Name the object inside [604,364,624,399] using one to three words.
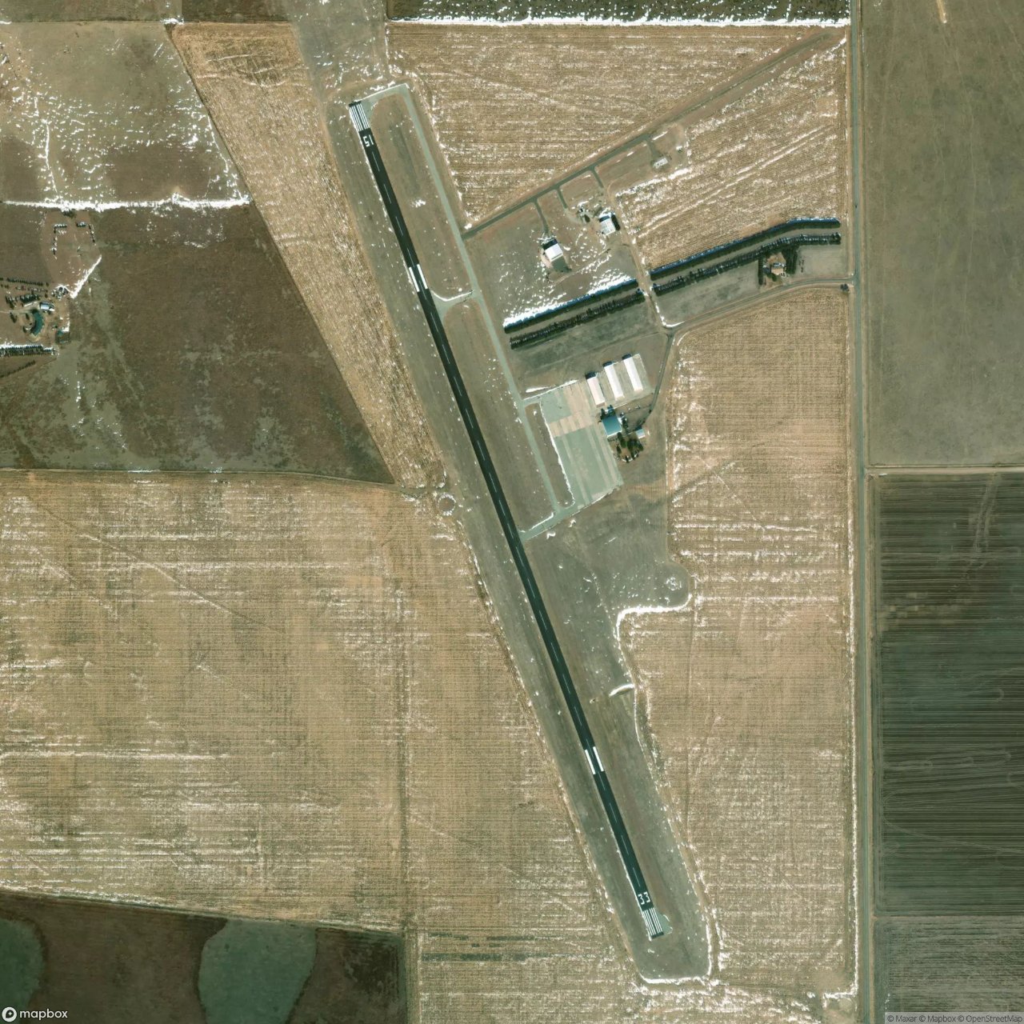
hangar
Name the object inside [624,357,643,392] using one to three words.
hangar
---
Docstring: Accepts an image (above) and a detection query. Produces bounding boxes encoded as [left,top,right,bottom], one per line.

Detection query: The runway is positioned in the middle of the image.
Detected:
[349,101,664,939]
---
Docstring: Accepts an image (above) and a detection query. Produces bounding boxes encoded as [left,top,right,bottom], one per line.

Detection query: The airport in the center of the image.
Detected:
[349,83,671,939]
